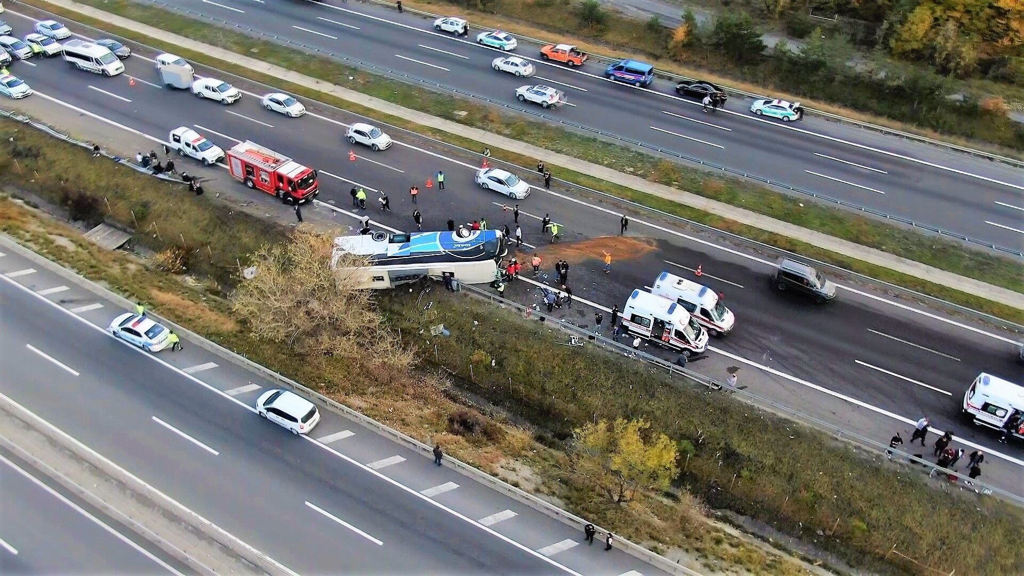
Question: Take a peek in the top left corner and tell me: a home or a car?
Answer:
car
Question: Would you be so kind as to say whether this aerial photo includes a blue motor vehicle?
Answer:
Yes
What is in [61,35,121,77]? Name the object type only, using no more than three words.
vehicle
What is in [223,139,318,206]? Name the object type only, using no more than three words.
truck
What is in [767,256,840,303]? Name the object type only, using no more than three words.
car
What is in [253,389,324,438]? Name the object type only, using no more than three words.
car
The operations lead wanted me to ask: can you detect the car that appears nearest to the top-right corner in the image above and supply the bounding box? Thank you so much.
[749,99,800,125]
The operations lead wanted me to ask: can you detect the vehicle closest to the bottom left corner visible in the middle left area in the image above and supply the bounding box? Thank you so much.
[108,311,173,356]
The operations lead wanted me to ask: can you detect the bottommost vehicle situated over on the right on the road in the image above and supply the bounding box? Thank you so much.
[962,367,1024,436]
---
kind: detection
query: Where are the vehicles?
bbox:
[223,139,318,206]
[193,77,238,105]
[673,80,727,106]
[767,256,840,303]
[253,389,324,438]
[33,21,73,42]
[61,35,121,77]
[539,44,590,69]
[604,60,657,90]
[962,367,1024,436]
[514,86,562,112]
[490,58,535,81]
[475,31,518,53]
[260,93,306,119]
[0,77,33,102]
[648,268,737,336]
[749,99,800,125]
[473,168,530,201]
[108,311,173,356]
[0,49,14,67]
[167,126,223,164]
[431,16,471,38]
[344,122,392,152]
[21,32,63,58]
[0,35,34,61]
[151,52,195,75]
[618,287,710,357]
[0,19,17,36]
